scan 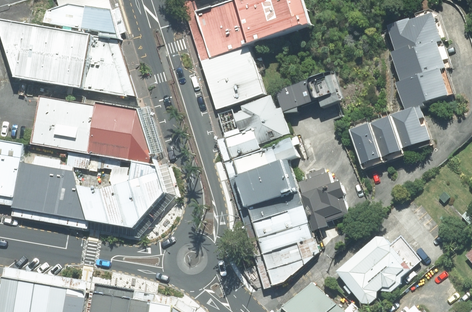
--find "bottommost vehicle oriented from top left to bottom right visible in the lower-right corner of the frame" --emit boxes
[416,248,430,266]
